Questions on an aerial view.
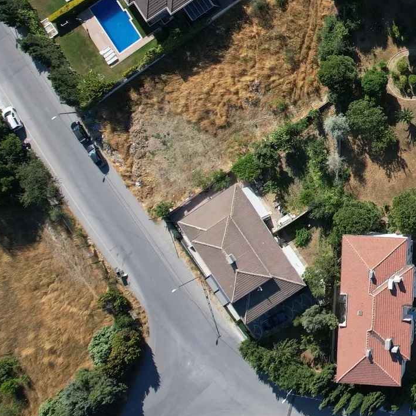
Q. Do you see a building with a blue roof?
No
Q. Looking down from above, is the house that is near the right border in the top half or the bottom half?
bottom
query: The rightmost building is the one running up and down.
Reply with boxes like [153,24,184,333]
[335,230,416,388]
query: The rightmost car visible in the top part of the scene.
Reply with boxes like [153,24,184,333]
[85,145,106,170]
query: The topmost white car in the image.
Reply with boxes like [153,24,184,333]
[0,105,22,131]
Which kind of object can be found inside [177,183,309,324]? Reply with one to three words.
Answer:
house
